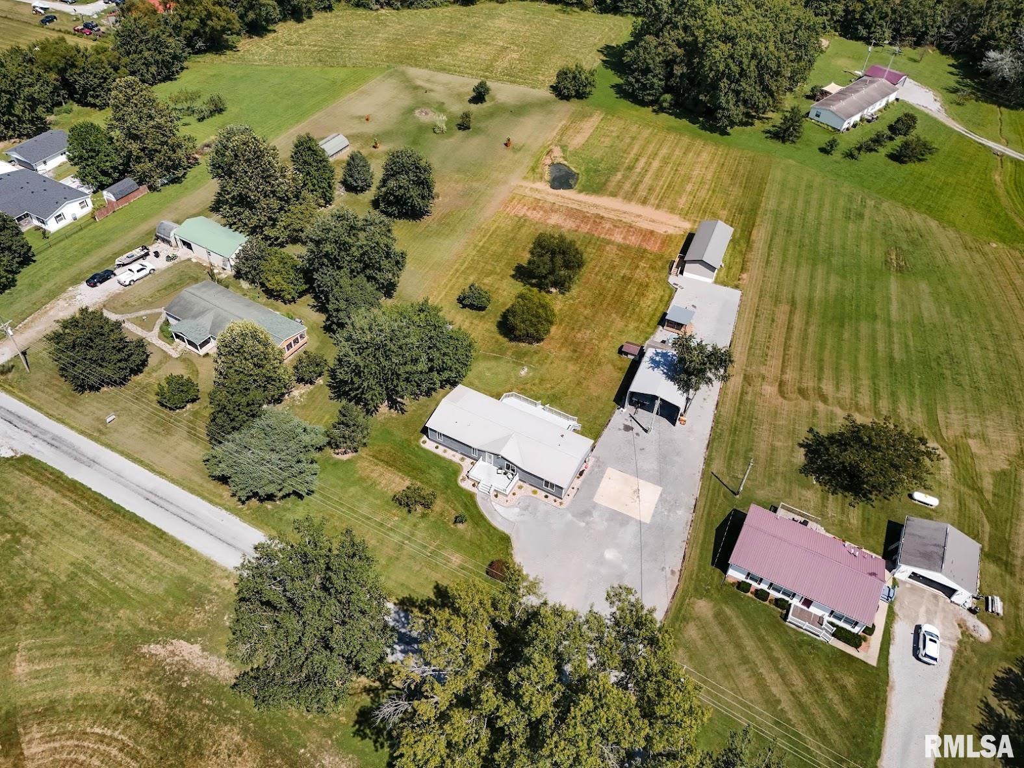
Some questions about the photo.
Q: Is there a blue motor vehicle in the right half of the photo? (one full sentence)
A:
No, looking in the right half of the photo, there is no blue motor vehicle.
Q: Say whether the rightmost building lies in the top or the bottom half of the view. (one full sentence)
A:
The bottom half of the photo is where the rightmost building is.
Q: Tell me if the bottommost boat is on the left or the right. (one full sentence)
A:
It is on the left.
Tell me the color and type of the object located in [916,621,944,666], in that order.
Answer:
white car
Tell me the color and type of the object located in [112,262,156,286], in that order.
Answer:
white truck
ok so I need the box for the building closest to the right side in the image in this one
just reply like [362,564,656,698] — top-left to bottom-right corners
[892,516,981,608]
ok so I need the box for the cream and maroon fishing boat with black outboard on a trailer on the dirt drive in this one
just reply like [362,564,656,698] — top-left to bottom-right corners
[113,239,151,261]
